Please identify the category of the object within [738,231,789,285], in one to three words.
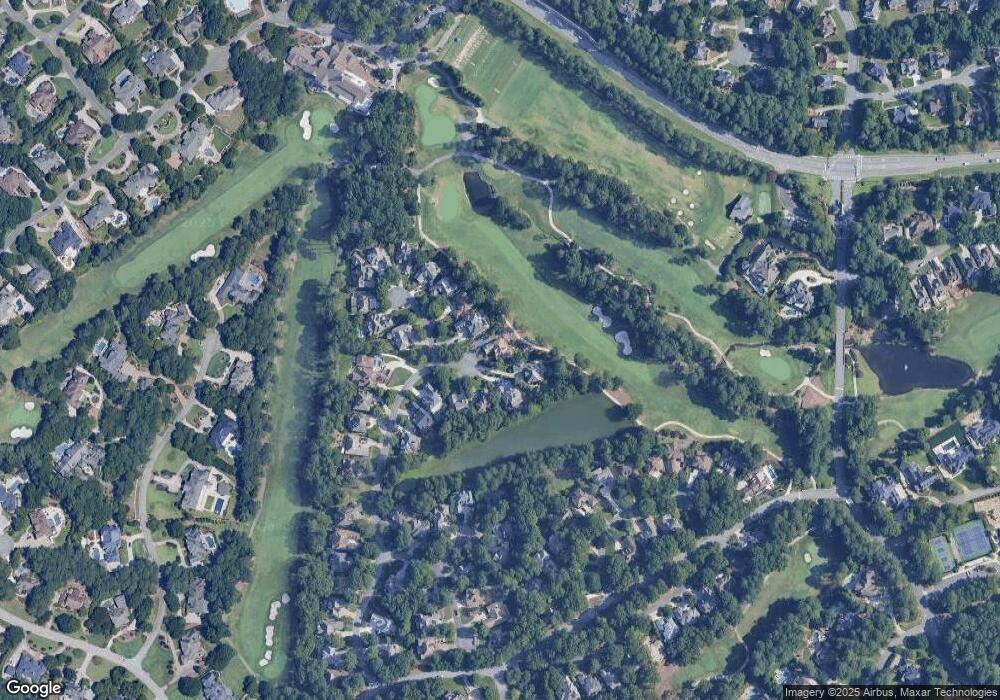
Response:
house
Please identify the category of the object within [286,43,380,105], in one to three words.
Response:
building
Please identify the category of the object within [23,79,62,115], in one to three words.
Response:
house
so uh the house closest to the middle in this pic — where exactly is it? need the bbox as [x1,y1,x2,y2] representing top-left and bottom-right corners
[482,336,521,359]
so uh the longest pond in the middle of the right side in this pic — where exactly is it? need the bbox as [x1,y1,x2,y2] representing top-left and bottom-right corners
[860,344,974,394]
